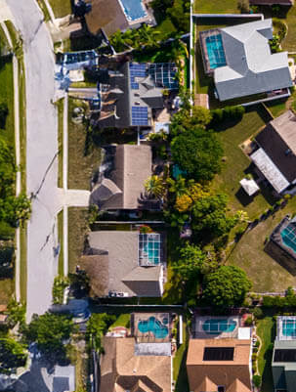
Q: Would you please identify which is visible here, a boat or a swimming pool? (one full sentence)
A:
The image shows a swimming pool.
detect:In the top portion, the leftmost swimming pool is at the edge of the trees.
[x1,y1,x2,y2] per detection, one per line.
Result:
[123,0,153,25]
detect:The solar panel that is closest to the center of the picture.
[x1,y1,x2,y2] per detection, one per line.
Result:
[130,107,147,122]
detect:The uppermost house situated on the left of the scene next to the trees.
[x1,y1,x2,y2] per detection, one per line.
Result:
[82,0,132,46]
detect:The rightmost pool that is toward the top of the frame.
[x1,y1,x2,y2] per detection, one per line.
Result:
[193,30,226,81]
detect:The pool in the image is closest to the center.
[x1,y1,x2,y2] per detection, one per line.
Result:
[140,233,160,266]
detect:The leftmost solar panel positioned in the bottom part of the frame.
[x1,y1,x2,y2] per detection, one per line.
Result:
[204,347,233,360]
